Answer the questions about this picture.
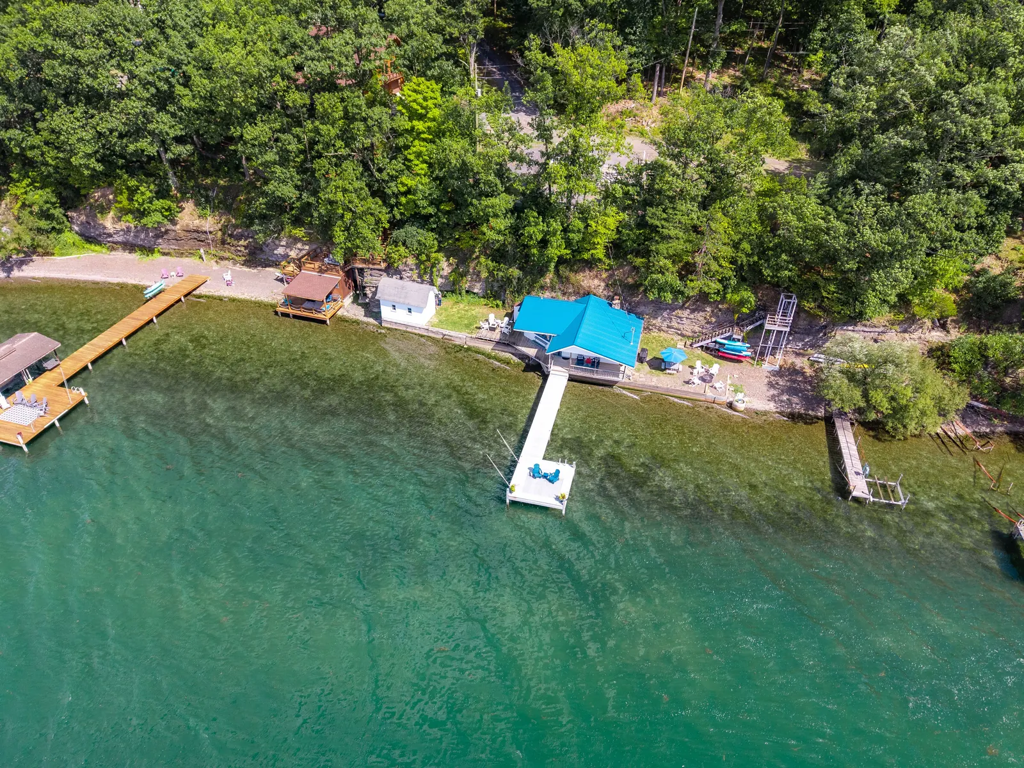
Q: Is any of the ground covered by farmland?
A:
No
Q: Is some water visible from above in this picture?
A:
Yes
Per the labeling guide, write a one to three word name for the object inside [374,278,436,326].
shed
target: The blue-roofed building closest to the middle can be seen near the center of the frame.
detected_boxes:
[511,290,647,390]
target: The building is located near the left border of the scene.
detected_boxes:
[0,330,77,402]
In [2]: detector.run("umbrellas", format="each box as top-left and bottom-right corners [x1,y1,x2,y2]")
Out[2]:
[660,341,691,360]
